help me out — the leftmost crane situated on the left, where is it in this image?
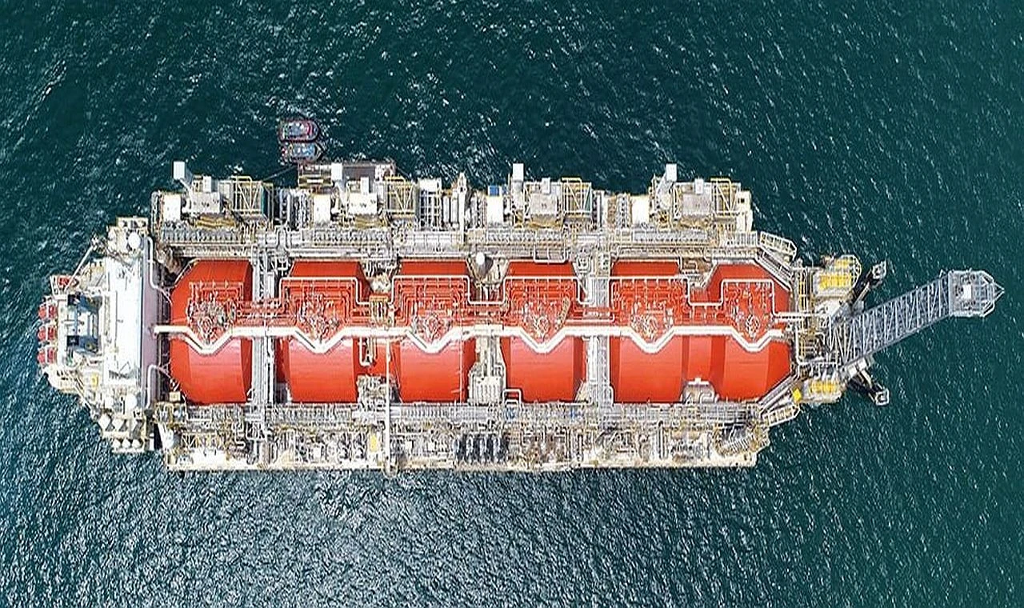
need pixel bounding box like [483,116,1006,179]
[62,240,110,292]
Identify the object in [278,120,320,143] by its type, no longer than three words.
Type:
boat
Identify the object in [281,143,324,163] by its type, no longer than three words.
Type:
boat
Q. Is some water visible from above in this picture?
Yes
